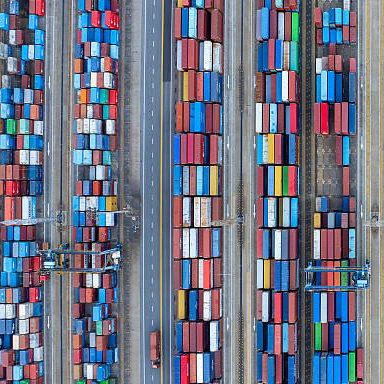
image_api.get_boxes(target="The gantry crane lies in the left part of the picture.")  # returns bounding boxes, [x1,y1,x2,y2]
[38,243,122,275]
